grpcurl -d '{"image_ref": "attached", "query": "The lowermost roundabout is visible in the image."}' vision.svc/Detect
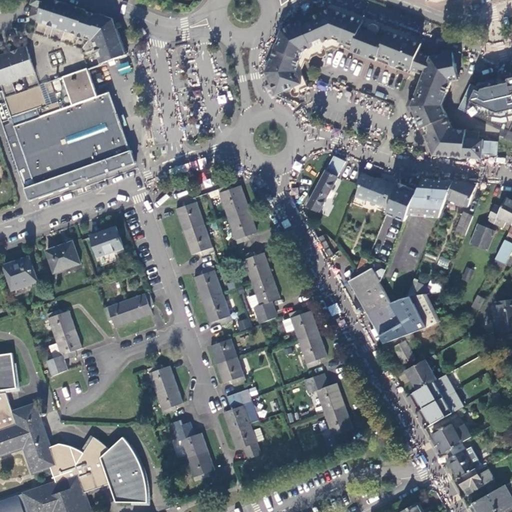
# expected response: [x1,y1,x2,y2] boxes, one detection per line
[240,108,300,168]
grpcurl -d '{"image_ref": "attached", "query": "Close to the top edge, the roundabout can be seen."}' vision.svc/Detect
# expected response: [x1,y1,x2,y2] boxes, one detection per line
[214,0,274,39]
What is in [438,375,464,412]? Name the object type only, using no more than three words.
building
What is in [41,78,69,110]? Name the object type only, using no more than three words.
building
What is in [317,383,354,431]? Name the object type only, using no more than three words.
house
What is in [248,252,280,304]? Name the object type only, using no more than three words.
house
